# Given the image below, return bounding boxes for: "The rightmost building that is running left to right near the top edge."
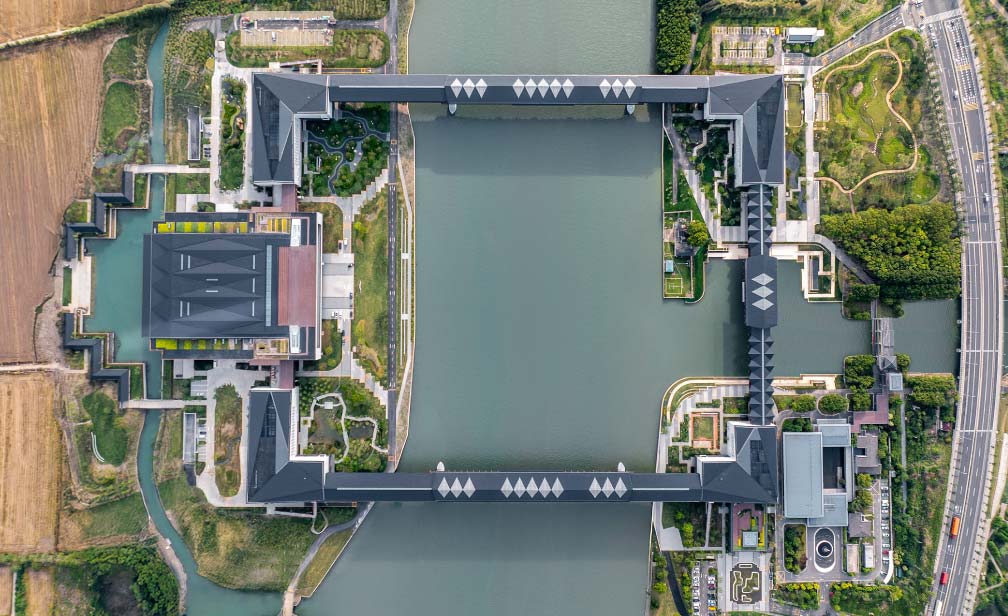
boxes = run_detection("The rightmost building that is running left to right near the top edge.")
[785,28,824,45]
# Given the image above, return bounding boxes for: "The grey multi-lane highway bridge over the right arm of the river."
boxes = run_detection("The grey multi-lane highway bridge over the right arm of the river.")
[953,300,1005,377]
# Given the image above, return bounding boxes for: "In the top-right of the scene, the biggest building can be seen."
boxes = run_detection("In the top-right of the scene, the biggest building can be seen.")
[699,75,785,189]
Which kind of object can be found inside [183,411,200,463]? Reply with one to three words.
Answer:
shed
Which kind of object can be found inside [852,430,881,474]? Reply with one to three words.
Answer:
house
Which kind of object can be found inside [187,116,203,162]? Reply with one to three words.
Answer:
shed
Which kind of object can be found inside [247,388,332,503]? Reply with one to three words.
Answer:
building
